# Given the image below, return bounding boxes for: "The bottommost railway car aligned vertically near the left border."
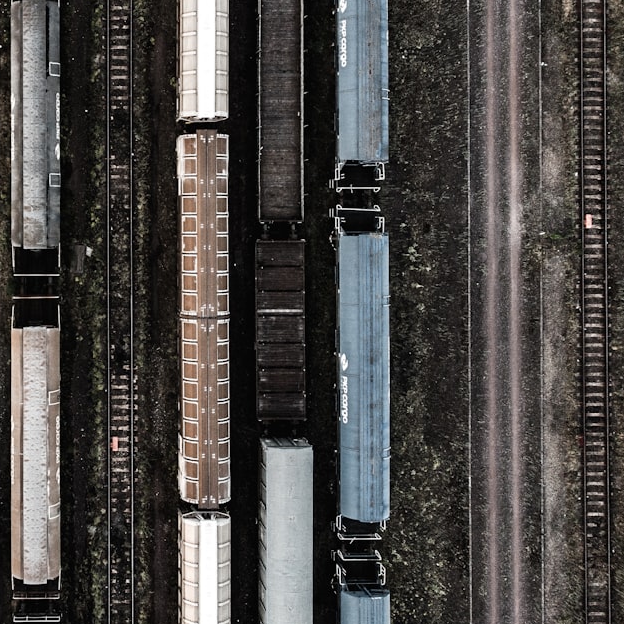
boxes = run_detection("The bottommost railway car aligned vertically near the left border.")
[9,286,62,605]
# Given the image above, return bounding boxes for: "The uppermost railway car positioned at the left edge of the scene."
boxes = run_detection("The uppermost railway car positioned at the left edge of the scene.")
[11,0,62,286]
